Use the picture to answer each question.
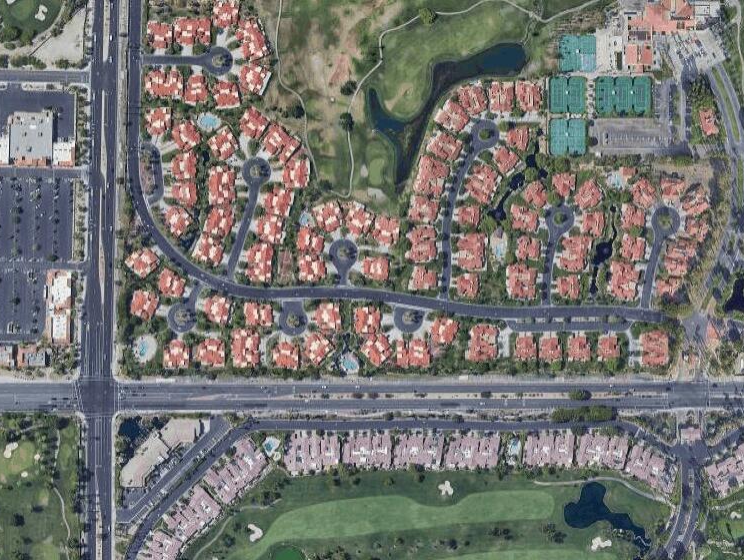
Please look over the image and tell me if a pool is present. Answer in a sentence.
Yes, a pool can be made out from above.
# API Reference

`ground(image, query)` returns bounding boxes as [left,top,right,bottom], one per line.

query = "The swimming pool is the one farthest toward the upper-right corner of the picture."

[606,171,629,189]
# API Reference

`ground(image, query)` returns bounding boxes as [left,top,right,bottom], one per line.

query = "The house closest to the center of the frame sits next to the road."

[361,255,390,281]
